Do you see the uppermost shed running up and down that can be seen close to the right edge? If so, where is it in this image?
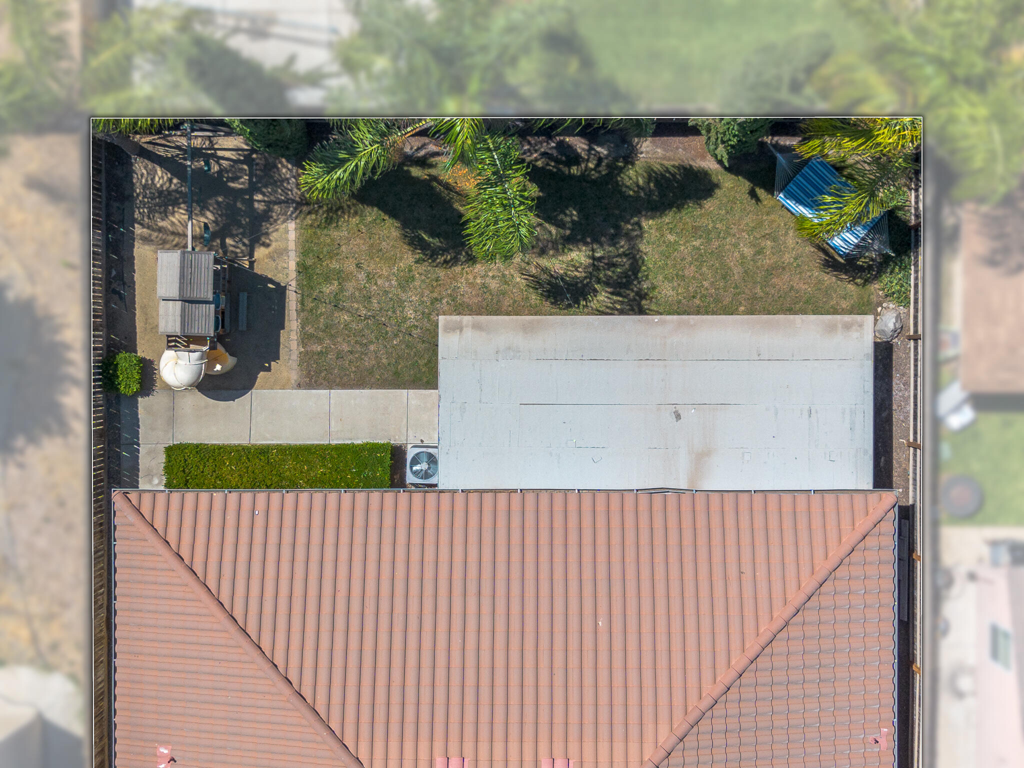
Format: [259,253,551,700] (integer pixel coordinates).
[939,202,1024,394]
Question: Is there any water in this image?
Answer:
No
